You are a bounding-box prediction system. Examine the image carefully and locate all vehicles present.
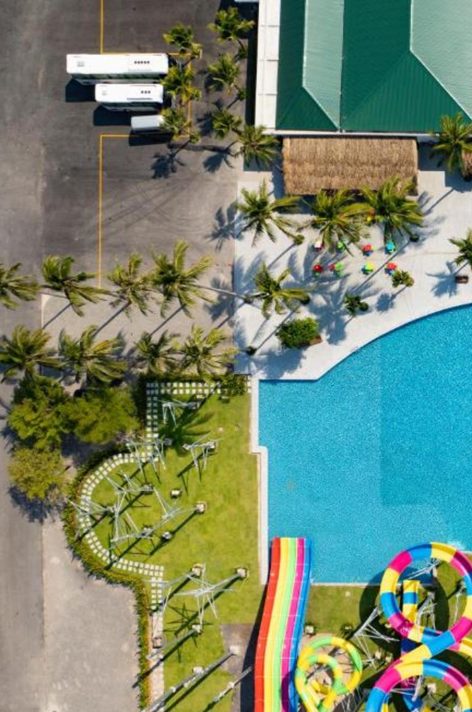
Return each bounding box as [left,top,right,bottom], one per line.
[67,51,181,85]
[133,116,178,137]
[95,82,176,114]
